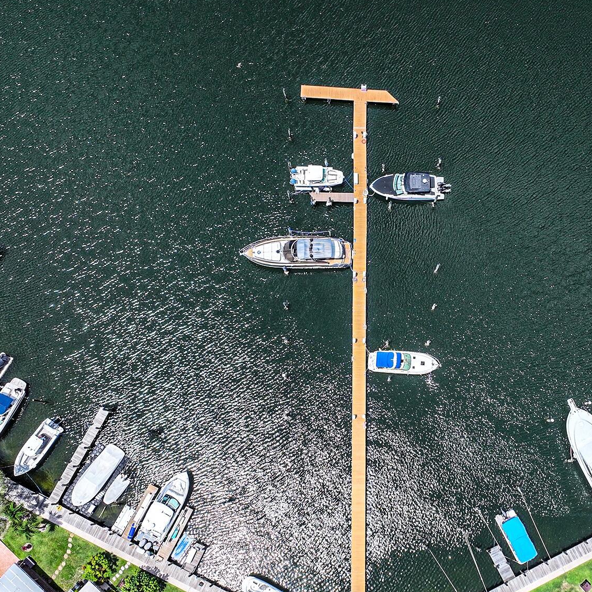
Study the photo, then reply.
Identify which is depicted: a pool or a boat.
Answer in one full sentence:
Looking from above, you can make out a boat.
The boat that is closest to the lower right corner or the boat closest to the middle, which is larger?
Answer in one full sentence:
It is the boat closest to the middle that is larger, not the boat that is closest to the lower right corner.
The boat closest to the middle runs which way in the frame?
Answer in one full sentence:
The boat closest to the middle runs from left to right in the image.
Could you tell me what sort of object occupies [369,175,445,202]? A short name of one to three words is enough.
boat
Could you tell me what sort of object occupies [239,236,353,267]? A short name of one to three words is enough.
boat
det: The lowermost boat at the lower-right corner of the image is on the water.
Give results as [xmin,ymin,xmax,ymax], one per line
[497,508,538,566]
